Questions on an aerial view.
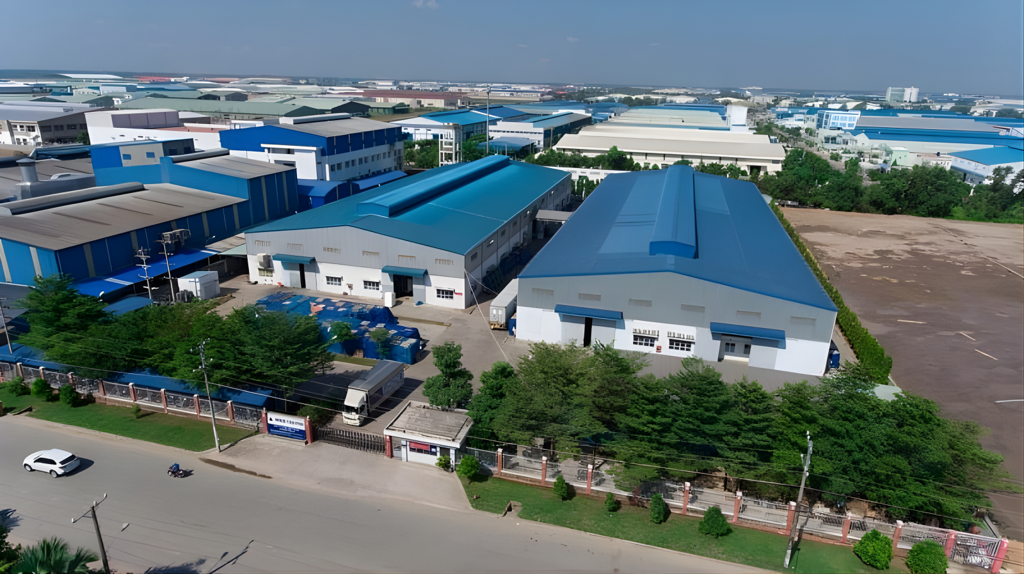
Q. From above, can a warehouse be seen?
Yes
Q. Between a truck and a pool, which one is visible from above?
truck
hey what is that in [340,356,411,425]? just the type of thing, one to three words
truck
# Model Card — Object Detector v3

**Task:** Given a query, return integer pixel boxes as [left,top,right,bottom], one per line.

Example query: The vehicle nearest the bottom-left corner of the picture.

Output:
[22,447,83,477]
